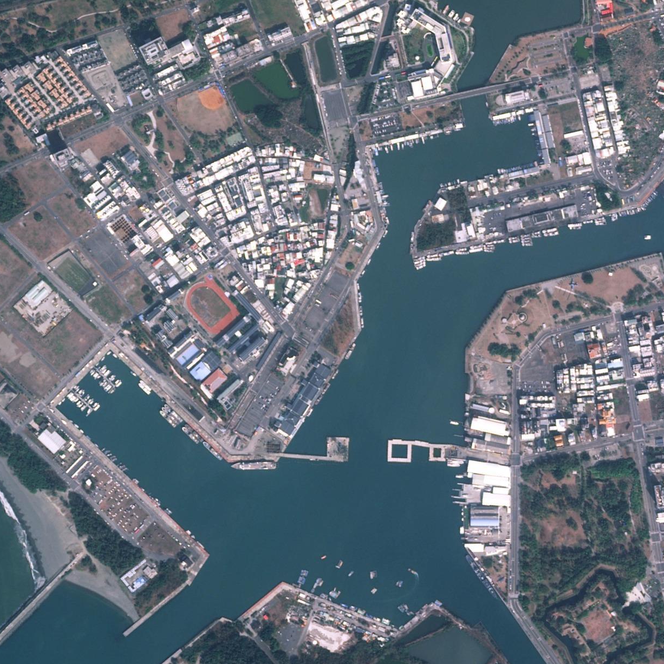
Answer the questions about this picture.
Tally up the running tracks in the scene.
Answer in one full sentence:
I count just 1 running track.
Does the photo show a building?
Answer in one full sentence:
Yes, you can see a building in this photo.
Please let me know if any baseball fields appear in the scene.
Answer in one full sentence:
Yes, I can see a baseball field in this picture.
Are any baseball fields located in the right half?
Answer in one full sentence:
No, in the right half there is no baseball field.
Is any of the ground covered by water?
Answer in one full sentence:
Yes, water shows up in the scene.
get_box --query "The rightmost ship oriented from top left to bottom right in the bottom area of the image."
[468,557,497,600]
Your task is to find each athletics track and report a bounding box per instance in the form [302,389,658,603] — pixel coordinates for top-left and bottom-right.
[185,275,238,334]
